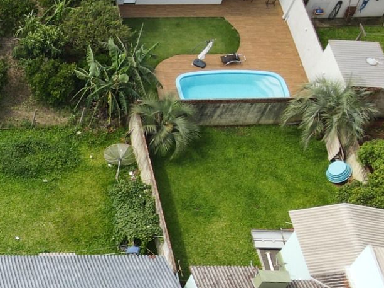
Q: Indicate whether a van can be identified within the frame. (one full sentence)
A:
No, there's no van here.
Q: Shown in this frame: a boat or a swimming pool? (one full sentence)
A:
This aerial view contains a swimming pool.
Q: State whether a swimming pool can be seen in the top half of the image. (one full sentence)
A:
Yes, the scene does show a swimming pool in the top half of the image.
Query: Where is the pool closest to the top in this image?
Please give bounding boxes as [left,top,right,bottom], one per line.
[178,70,290,98]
